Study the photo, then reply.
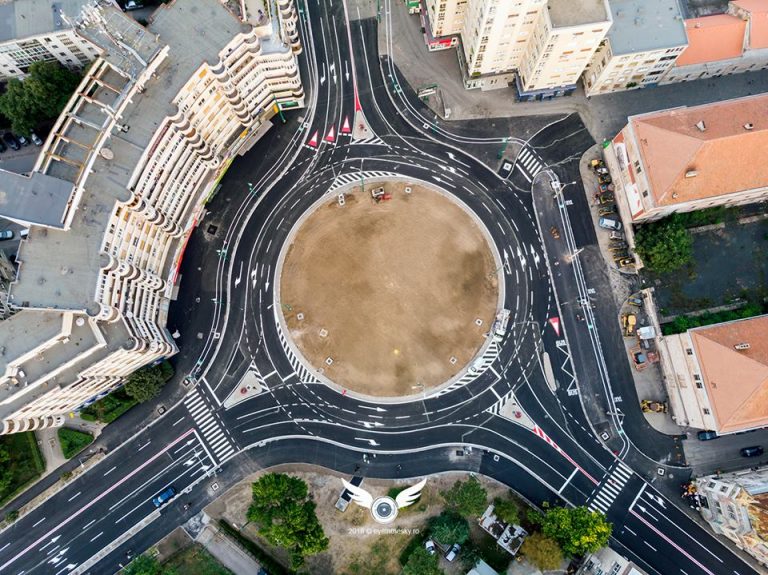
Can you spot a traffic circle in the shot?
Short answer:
Yes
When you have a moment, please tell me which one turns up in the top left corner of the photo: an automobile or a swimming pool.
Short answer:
automobile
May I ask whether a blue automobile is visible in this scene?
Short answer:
Yes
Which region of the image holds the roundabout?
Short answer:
center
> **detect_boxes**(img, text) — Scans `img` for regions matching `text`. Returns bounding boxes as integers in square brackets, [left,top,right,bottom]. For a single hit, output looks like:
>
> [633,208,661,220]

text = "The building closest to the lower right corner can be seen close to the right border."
[694,467,768,568]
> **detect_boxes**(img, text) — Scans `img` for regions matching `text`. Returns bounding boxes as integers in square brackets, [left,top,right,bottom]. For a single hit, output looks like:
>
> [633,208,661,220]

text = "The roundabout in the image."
[214,5,608,481]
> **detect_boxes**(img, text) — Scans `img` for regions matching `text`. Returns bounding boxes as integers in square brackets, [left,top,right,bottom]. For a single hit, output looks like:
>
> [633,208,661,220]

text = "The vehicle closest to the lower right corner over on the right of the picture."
[737,444,766,459]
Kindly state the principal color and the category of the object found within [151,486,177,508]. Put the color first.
blue car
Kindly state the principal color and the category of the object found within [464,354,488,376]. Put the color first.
white vehicle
